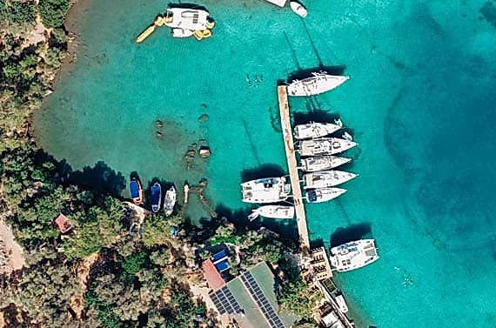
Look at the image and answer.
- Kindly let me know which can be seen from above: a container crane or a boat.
boat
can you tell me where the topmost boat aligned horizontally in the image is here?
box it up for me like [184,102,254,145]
[164,8,210,29]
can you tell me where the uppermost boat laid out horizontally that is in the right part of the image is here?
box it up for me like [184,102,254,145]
[286,73,349,98]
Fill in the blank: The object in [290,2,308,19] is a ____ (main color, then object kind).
white boat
